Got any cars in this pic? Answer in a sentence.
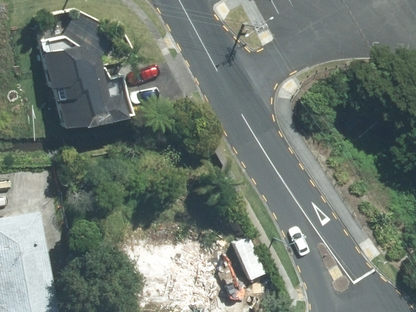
Yes, the image includes a car.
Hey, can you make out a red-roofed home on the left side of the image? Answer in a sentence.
No, no red-roofed home can be made out on the left side of the image.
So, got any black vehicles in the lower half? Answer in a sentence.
No, no black vehicle is visible in the lower half.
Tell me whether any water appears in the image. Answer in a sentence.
No, no water is visible.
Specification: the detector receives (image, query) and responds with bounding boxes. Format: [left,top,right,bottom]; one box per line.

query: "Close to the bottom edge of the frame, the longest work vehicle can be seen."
[218,252,246,306]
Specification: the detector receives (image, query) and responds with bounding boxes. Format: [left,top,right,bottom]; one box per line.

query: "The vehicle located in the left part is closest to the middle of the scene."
[130,86,160,104]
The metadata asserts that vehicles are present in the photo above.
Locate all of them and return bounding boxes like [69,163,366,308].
[130,86,160,104]
[285,225,311,256]
[218,252,246,306]
[126,64,160,84]
[0,196,8,208]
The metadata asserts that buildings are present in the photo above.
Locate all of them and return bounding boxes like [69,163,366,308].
[37,18,134,128]
[230,235,266,280]
[0,210,58,312]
